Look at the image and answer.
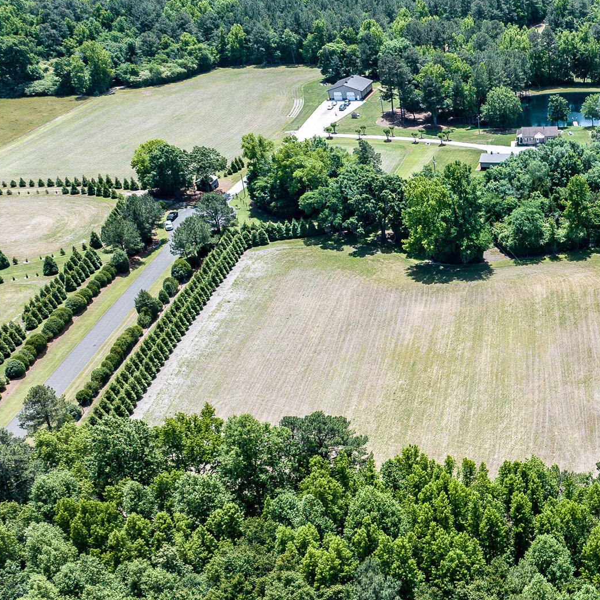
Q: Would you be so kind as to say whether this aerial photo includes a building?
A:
Yes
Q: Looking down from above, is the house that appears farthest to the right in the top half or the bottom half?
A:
top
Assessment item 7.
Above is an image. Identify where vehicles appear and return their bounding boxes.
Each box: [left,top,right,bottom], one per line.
[164,220,173,231]
[331,98,338,105]
[326,103,334,109]
[338,102,346,109]
[344,98,350,105]
[164,211,179,221]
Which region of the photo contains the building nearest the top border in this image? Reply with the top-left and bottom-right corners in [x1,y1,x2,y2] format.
[327,74,372,101]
